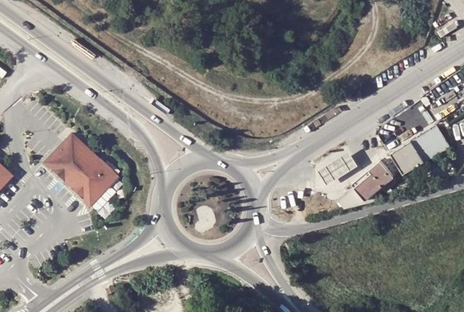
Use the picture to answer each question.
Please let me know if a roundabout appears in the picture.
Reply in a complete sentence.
Yes, there's a roundabout down there.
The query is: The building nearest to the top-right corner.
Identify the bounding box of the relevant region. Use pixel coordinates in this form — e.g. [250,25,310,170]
[415,126,450,160]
